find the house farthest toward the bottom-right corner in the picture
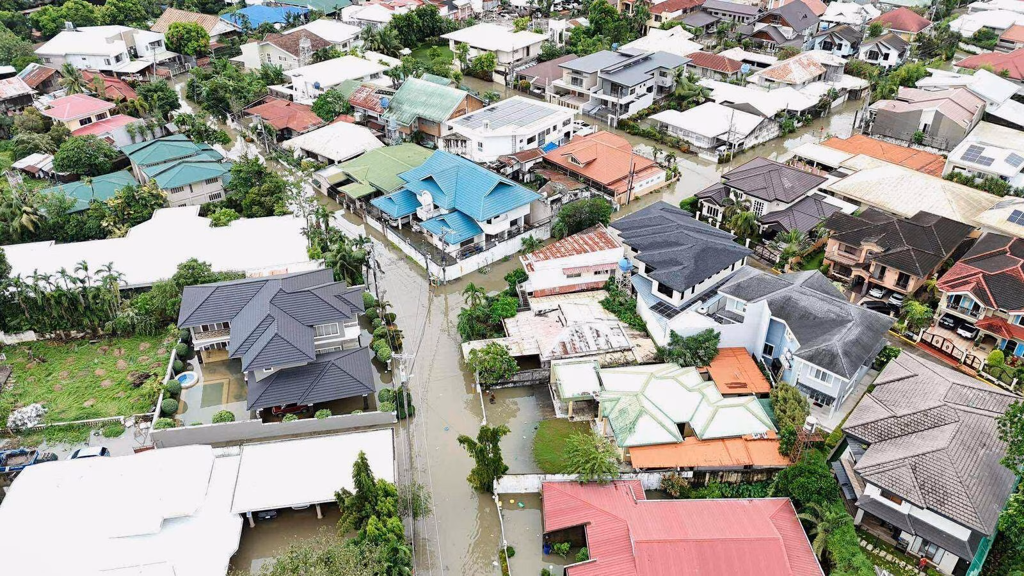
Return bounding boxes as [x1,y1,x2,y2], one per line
[833,349,1024,576]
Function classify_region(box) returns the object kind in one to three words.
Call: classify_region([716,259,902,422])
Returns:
house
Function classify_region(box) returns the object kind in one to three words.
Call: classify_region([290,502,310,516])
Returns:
car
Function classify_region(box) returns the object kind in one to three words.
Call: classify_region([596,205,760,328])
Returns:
house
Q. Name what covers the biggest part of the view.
buildings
